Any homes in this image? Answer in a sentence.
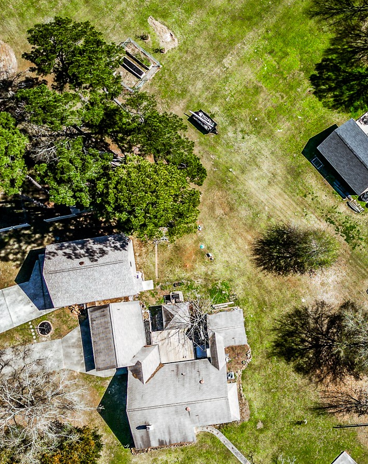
Yes, a home can be made out from above.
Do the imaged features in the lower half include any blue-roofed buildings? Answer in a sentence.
No, no blue-roofed building can be made out in the lower half.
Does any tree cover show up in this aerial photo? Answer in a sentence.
Yes, tree cover can be seen from above here.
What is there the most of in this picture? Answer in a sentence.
The scene is dominated by grass.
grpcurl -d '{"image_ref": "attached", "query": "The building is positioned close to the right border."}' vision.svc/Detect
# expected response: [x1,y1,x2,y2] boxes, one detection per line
[317,119,368,195]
